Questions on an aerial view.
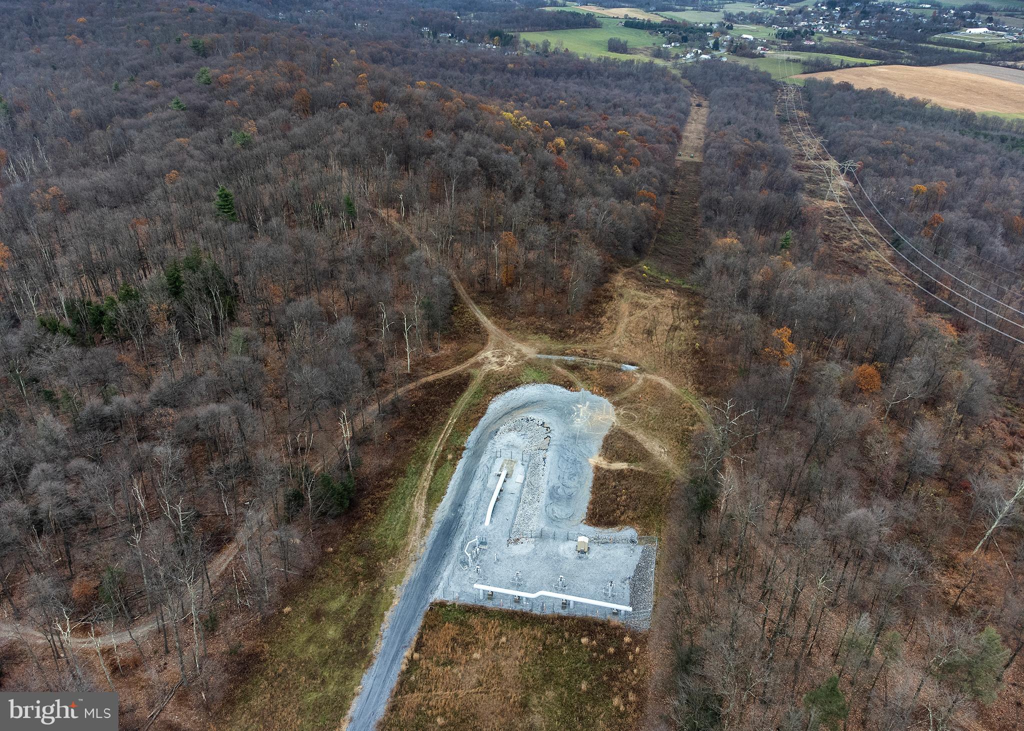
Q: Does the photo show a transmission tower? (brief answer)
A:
Yes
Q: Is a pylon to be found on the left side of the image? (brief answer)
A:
No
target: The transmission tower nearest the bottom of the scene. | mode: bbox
[819,159,862,206]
